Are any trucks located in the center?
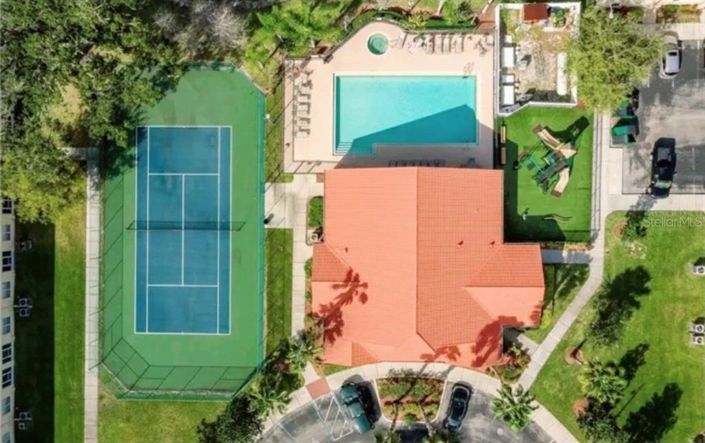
No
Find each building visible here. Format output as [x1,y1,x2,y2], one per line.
[312,165,545,371]
[518,5,549,26]
[0,185,30,443]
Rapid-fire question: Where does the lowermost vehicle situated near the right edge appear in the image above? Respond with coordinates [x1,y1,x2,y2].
[653,139,679,194]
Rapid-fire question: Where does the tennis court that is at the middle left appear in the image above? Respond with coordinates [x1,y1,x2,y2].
[102,68,265,393]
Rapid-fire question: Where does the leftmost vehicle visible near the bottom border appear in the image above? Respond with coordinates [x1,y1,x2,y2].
[340,382,374,434]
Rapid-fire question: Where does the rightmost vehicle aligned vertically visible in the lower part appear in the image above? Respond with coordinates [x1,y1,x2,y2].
[448,385,472,430]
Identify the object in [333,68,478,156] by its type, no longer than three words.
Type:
swimming pool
